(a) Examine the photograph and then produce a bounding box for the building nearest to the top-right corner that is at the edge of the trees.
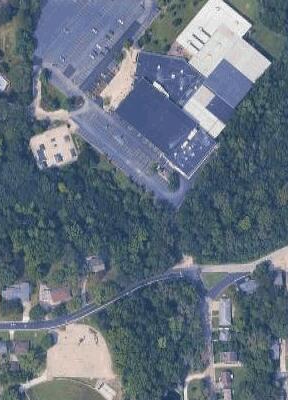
[115,0,271,178]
